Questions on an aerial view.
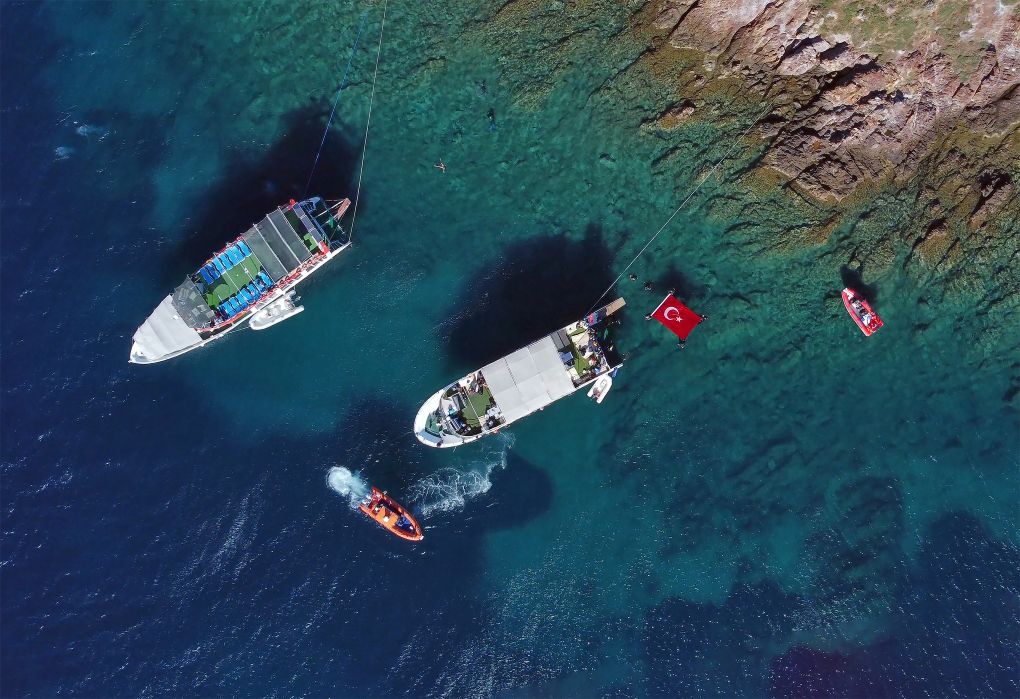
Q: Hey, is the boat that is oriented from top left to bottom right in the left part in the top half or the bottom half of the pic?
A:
bottom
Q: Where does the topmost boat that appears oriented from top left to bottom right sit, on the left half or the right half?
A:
right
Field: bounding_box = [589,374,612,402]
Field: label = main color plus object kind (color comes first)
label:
white boat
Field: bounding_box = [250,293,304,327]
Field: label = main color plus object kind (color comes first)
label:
white boat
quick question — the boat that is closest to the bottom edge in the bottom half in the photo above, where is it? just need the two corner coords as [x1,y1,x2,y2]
[360,488,422,542]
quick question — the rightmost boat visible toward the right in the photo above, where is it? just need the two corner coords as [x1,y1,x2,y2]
[843,288,883,336]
